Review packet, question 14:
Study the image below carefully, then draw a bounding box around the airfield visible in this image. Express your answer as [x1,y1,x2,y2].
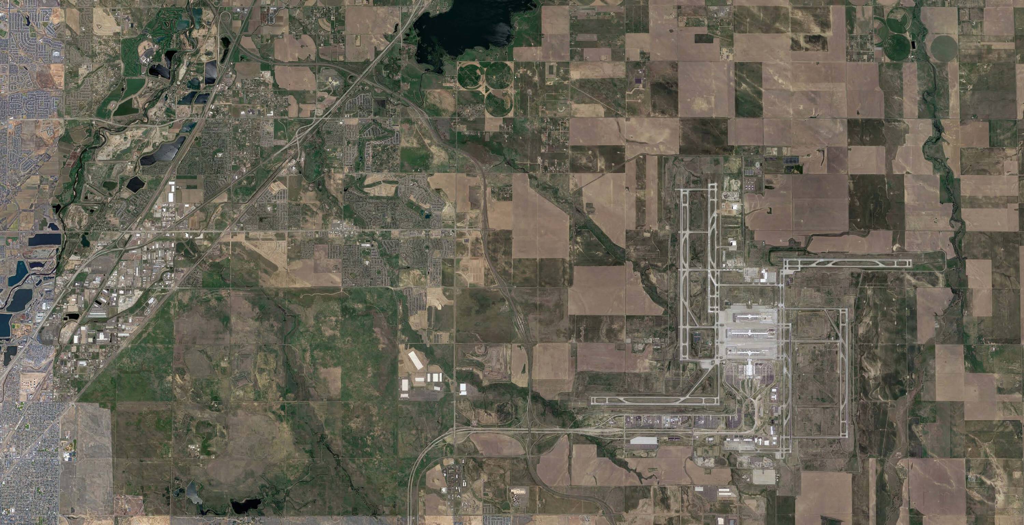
[591,183,912,460]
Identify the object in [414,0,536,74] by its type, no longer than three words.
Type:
pond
